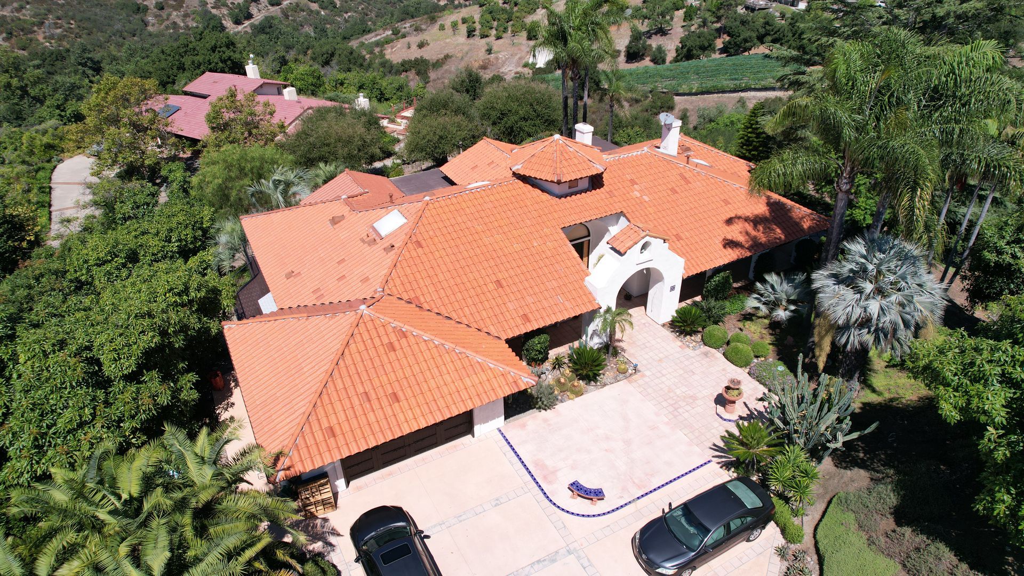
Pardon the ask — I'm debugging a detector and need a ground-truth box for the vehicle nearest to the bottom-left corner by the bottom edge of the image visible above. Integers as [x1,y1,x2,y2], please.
[353,504,437,576]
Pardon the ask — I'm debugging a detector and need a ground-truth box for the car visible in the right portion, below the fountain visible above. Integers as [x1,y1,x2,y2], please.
[633,478,774,576]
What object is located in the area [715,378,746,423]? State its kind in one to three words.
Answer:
fountain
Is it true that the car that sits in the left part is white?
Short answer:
No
